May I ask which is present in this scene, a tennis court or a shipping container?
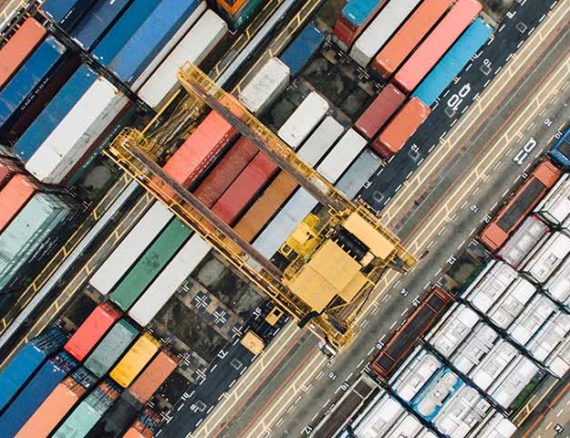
shipping container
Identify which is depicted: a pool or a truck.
truck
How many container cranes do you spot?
1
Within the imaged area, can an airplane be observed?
No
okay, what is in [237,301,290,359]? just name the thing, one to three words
truck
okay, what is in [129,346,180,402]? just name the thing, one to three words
shipping container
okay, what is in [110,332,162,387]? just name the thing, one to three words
shipping container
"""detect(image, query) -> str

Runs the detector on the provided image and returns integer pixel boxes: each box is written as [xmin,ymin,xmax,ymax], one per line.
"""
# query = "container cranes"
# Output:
[102,49,425,354]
